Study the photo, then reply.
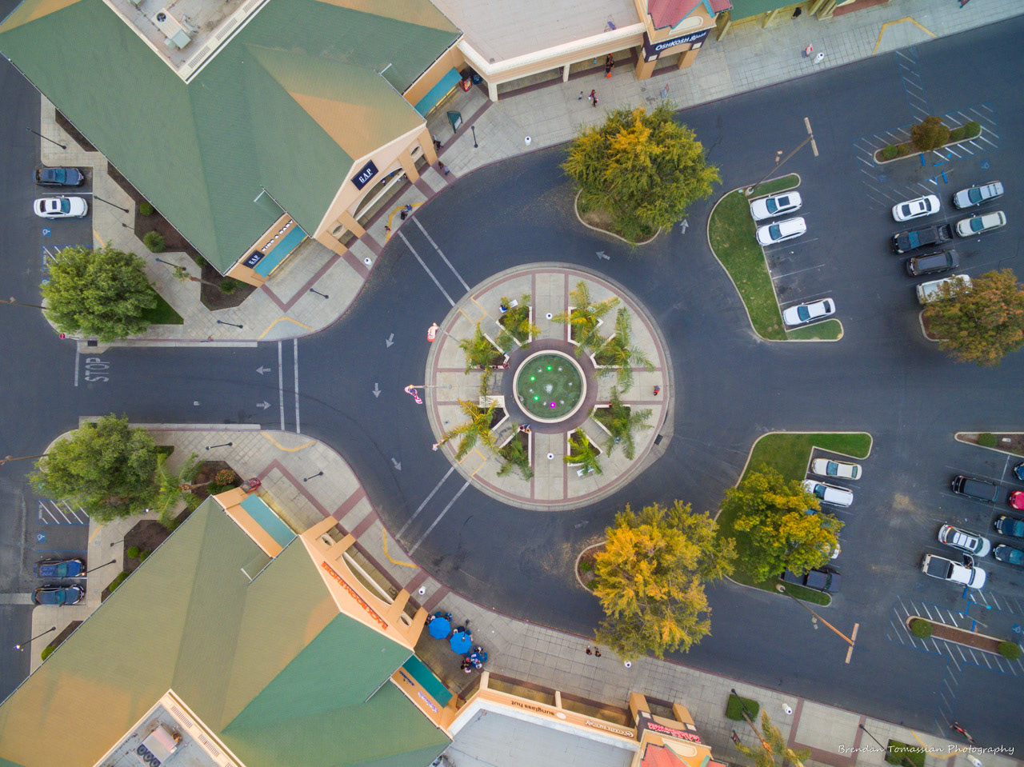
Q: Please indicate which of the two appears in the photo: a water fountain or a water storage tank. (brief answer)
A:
water fountain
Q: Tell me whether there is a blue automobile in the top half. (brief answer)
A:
Yes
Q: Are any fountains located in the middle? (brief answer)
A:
Yes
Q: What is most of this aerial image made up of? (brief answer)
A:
paved ground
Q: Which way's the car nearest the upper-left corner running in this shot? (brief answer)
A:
from left to right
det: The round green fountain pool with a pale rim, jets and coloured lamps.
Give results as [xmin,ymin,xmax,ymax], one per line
[512,348,588,424]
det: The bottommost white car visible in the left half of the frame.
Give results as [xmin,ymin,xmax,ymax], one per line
[36,196,92,221]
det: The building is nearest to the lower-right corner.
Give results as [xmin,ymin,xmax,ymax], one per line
[629,694,724,767]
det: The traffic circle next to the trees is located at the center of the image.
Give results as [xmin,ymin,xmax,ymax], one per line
[426,263,674,510]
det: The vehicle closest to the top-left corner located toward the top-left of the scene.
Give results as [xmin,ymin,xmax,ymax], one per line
[32,164,88,191]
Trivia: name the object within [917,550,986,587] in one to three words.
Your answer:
truck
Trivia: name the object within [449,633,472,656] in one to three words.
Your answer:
umbrella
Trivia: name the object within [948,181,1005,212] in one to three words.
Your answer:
car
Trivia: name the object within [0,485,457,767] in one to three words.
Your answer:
building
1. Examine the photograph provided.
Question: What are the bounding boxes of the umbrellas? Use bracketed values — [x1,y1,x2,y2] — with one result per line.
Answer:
[426,619,450,643]
[449,633,472,656]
